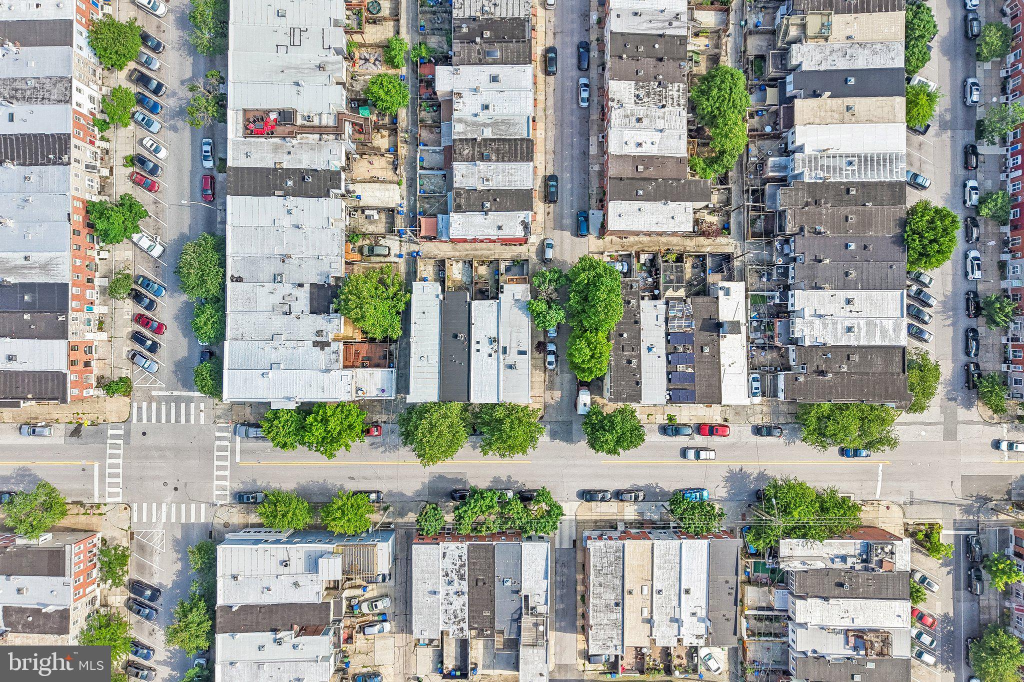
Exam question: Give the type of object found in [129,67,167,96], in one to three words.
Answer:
truck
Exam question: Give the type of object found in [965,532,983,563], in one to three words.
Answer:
car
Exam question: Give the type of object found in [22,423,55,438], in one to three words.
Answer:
vehicle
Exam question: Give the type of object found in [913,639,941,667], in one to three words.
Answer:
van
